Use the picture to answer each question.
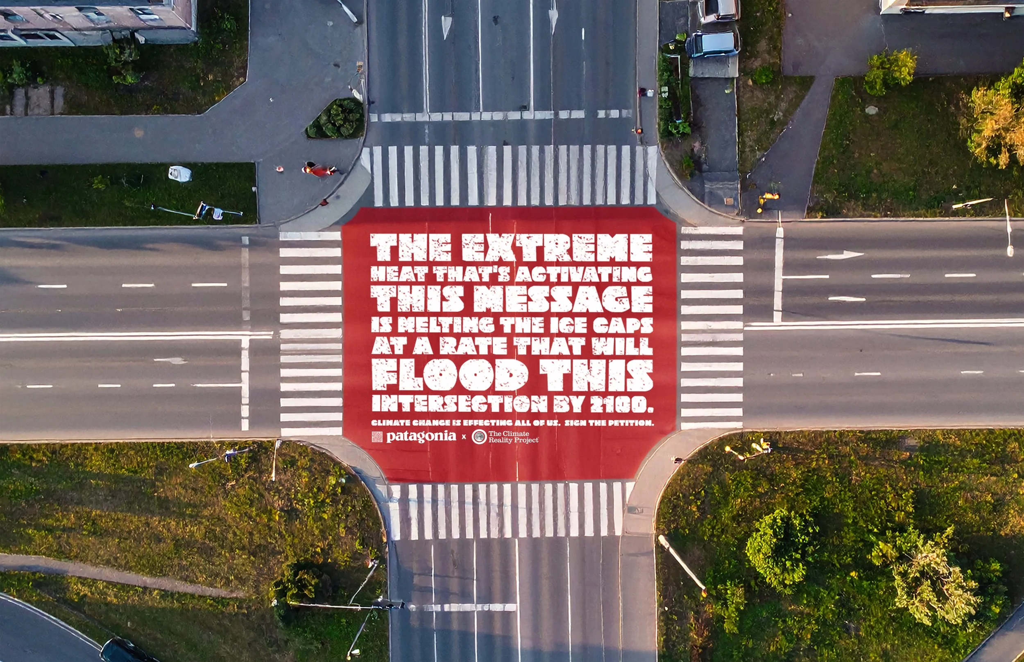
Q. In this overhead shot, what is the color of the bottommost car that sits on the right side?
blue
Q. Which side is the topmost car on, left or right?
right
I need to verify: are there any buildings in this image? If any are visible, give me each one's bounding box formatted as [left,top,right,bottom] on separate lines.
[881,0,1024,31]
[0,0,200,57]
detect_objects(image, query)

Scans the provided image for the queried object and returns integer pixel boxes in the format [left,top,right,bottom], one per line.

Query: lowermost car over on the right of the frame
[686,28,745,61]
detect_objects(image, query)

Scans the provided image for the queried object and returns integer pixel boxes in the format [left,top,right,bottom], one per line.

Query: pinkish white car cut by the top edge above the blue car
[691,0,752,25]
